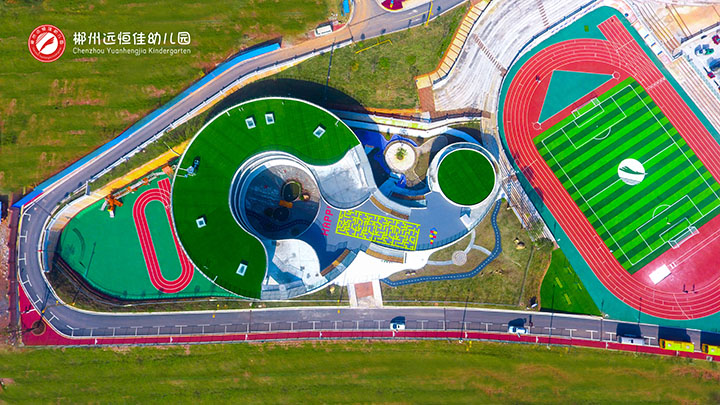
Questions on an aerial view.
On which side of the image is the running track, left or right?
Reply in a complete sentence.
The running track is on the right side of the image.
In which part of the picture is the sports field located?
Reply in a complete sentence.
You can find the sports field in the right area of the picture.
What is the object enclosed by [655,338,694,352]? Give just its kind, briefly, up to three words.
vehicle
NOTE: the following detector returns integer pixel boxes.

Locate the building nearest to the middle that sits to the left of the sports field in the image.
[169,96,502,302]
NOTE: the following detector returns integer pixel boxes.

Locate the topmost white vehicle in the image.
[314,27,334,40]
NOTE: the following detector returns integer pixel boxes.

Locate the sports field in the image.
[498,6,720,330]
